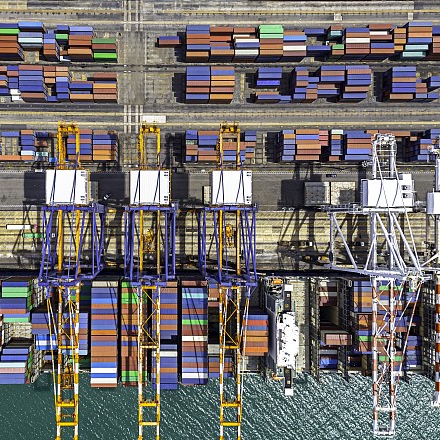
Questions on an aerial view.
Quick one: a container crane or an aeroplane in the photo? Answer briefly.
container crane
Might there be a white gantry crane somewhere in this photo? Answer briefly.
Yes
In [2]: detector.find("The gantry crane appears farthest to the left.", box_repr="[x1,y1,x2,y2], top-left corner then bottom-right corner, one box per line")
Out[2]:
[34,121,111,440]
